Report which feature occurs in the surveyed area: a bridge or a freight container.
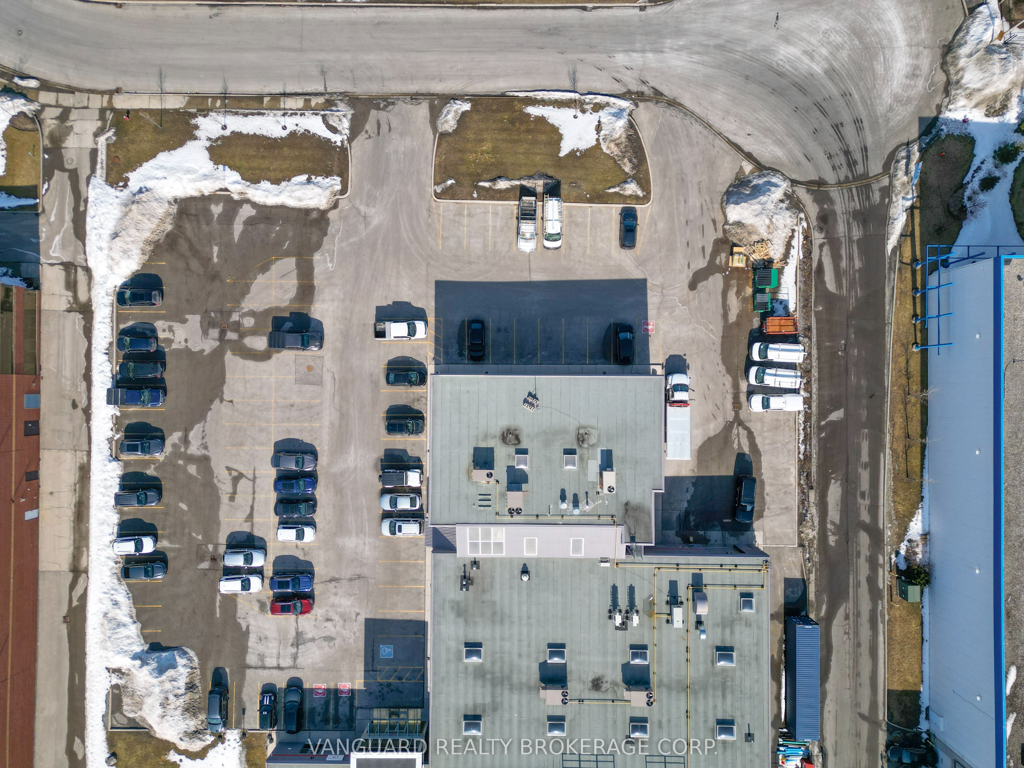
freight container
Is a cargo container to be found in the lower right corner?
Yes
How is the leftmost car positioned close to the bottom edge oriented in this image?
from top to bottom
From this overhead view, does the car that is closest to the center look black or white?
black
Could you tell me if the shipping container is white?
No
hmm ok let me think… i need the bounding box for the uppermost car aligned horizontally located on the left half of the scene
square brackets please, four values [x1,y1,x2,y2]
[116,287,162,308]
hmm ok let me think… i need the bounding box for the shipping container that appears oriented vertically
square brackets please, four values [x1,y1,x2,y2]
[786,617,820,741]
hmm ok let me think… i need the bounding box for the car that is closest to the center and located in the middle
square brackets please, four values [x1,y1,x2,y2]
[466,320,487,360]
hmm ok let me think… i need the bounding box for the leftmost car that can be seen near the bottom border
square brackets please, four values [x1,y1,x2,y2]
[206,686,231,733]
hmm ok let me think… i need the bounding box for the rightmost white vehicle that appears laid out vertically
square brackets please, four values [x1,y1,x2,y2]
[662,366,693,460]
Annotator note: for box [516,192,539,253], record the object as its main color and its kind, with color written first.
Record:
white truck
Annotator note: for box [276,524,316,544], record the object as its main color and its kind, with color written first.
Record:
white car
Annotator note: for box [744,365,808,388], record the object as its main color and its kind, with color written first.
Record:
white vehicle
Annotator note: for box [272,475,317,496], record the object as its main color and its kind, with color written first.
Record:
blue car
